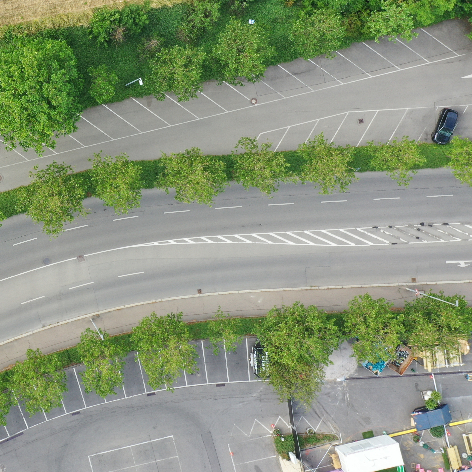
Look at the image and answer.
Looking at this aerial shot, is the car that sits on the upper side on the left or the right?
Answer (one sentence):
It is on the right.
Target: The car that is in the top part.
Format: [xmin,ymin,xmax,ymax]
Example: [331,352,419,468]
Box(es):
[429,106,460,145]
